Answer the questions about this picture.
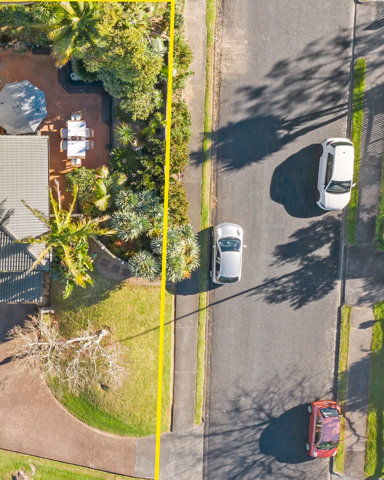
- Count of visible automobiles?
three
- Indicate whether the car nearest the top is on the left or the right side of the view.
right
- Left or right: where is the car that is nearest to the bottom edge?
right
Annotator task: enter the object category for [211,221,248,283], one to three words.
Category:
car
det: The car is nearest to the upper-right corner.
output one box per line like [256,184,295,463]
[311,139,351,208]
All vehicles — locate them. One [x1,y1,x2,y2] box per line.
[211,221,248,283]
[311,139,351,208]
[302,401,340,462]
